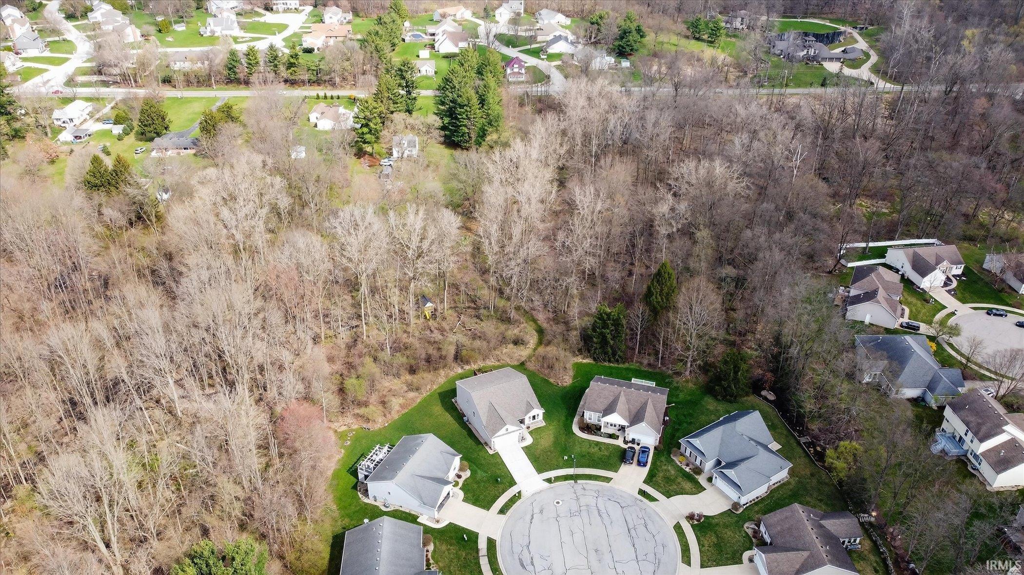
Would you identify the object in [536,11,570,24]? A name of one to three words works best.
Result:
house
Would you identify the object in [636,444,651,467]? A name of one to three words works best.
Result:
car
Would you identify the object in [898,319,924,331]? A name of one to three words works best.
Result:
vehicle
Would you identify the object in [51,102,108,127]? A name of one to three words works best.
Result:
house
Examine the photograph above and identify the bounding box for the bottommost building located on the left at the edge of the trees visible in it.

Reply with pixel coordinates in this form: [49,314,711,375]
[340,525,423,575]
